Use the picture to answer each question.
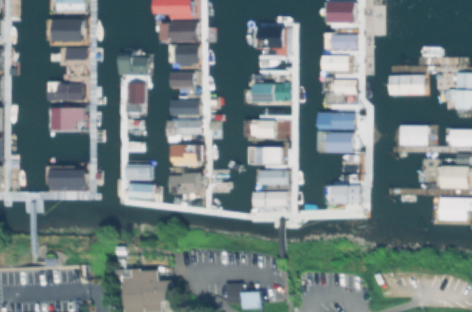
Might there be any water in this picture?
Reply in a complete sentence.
Yes, water can be seen from above here.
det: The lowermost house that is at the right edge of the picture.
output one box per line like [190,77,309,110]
[434,196,472,224]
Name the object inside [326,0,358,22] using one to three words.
house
